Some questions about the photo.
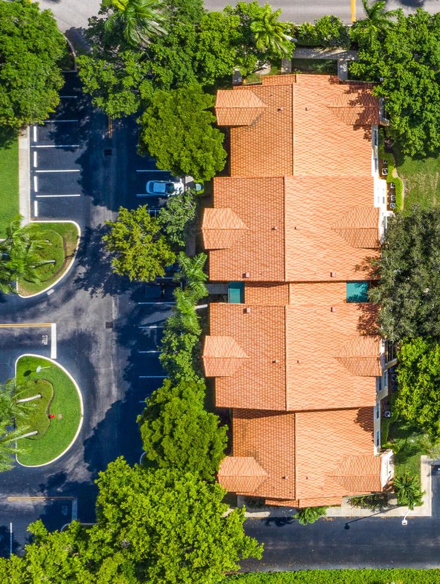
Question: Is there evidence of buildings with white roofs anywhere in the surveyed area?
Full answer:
No, the picture doesn't show any building with a white roof.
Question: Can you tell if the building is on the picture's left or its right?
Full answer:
It is on the right.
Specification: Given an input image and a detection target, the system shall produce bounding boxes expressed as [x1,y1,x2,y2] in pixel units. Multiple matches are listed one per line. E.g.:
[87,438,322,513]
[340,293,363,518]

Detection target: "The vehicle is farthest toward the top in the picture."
[146,179,185,197]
